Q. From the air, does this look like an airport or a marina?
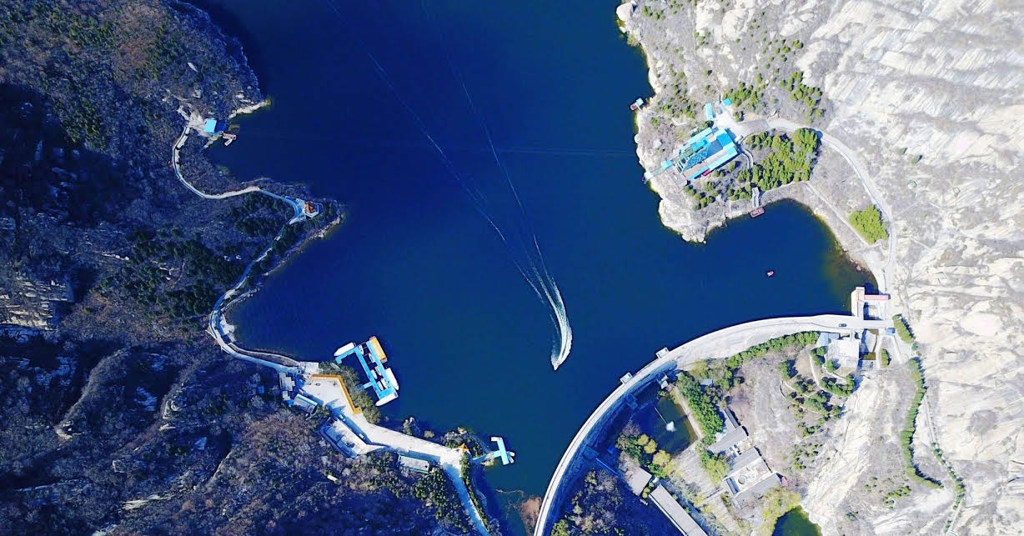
marina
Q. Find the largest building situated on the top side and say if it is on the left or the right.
right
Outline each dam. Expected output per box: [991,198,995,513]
[534,314,856,536]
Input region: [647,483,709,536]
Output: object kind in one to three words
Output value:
building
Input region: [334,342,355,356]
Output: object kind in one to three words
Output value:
boat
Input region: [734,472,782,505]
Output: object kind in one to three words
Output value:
house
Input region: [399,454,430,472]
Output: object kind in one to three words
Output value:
building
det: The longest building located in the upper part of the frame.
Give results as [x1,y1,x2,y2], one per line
[676,128,744,180]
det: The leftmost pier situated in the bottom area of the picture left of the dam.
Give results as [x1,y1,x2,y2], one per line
[336,341,398,400]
